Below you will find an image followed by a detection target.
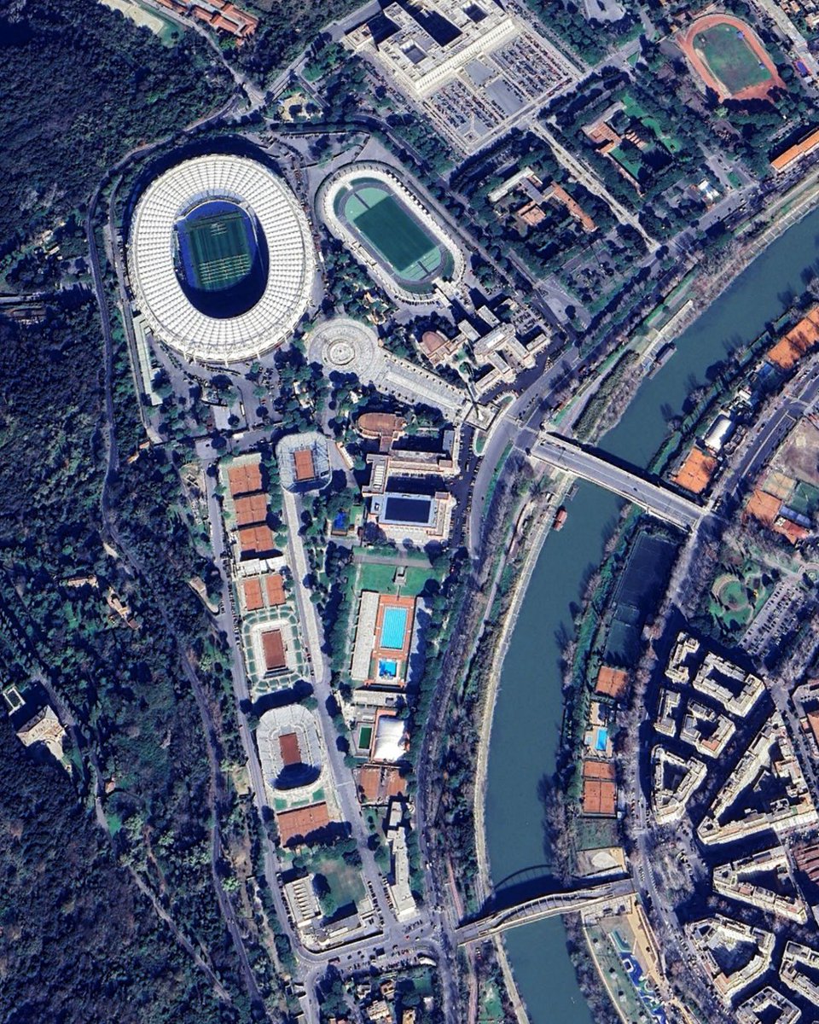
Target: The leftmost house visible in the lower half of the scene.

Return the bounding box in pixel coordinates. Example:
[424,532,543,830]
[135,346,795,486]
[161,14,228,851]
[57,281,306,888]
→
[16,703,67,745]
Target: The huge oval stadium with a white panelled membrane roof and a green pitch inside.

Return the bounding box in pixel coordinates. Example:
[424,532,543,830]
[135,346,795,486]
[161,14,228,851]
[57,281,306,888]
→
[128,154,317,364]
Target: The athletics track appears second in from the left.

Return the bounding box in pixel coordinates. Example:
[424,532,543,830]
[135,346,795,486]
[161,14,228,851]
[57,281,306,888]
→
[334,171,455,293]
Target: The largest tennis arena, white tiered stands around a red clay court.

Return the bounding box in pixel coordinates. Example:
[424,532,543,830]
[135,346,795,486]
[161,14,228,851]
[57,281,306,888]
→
[257,703,324,796]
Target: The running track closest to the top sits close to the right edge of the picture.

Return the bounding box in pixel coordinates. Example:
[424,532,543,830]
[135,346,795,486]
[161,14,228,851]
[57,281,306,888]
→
[678,11,786,102]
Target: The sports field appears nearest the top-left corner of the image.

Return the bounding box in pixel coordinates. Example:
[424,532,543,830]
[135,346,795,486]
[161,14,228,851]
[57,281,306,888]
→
[182,206,260,308]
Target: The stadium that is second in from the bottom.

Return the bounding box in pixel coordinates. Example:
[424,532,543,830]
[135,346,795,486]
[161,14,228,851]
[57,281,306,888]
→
[245,608,311,691]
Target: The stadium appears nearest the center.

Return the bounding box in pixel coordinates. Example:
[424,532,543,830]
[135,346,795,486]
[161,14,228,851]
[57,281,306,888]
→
[277,432,332,495]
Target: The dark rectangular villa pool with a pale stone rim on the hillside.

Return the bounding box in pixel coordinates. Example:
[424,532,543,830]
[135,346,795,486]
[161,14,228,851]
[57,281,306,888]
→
[8,685,25,711]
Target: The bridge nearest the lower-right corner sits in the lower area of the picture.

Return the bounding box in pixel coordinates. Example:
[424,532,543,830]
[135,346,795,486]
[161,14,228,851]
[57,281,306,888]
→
[455,879,636,945]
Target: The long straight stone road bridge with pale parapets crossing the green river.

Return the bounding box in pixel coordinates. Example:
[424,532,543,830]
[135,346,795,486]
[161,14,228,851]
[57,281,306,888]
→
[520,428,715,538]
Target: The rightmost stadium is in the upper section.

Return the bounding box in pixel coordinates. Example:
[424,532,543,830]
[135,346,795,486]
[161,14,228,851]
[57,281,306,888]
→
[315,152,474,312]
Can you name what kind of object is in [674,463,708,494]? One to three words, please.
tennis court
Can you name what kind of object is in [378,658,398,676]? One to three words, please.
swimming pool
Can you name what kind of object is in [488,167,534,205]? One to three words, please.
building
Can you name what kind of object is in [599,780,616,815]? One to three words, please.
tennis court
